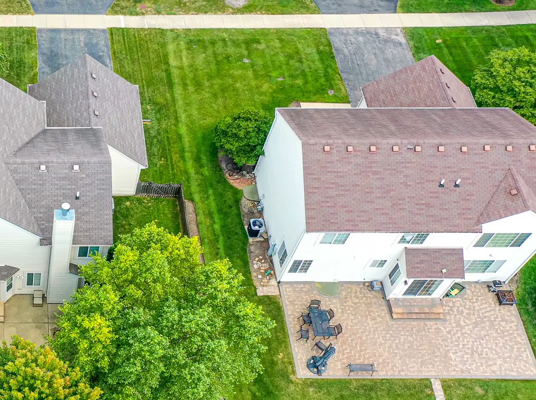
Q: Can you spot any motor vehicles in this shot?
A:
No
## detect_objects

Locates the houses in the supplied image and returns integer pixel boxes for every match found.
[0,54,152,322]
[255,56,536,318]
